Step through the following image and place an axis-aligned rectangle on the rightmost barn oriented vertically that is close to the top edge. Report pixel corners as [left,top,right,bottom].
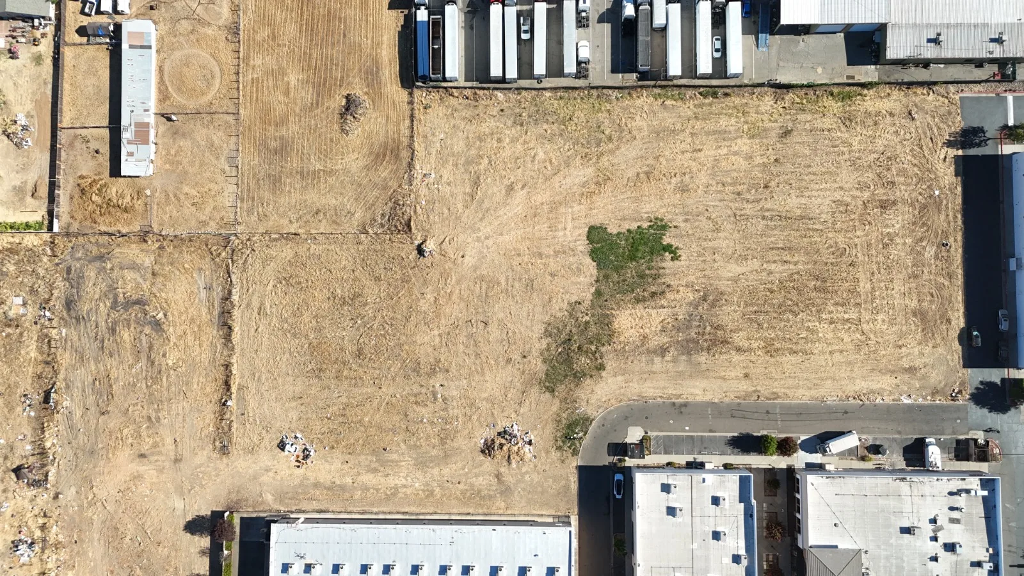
[121,20,156,178]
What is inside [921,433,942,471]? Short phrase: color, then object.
white truck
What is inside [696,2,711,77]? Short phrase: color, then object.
white trailer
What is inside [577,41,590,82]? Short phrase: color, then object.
white vehicle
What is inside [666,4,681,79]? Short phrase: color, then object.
white trailer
